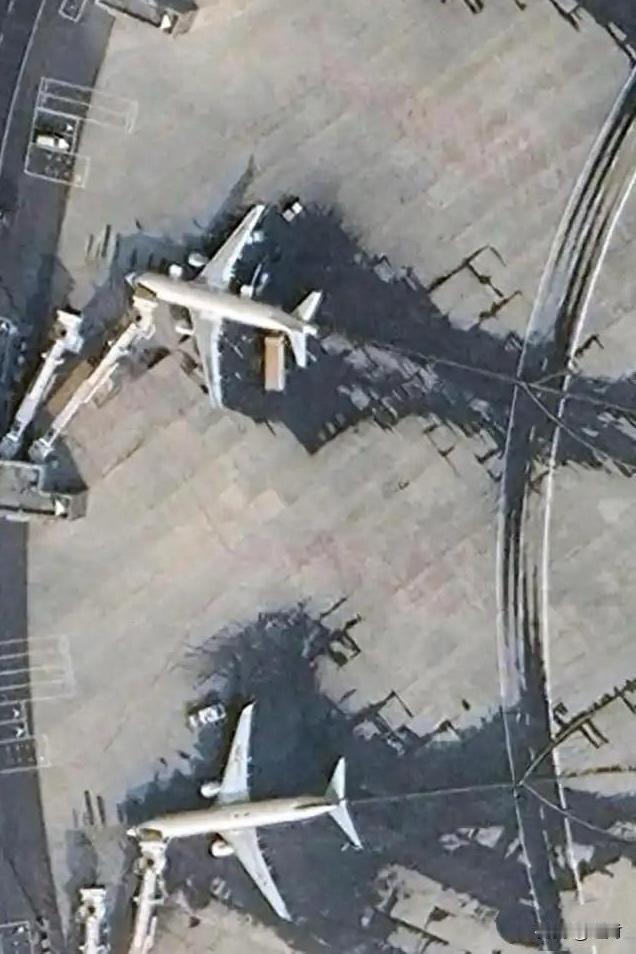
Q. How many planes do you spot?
2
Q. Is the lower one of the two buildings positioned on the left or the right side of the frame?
left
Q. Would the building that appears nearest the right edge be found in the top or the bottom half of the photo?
top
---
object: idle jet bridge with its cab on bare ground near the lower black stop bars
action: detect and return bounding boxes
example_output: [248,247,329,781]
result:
[75,888,109,954]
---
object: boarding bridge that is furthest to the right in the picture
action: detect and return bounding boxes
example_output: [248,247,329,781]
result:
[131,830,169,954]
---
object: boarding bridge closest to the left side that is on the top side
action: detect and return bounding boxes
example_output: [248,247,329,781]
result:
[0,307,82,457]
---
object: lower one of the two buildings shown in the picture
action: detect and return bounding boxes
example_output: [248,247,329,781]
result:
[0,460,88,521]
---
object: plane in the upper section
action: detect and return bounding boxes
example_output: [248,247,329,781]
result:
[128,205,325,406]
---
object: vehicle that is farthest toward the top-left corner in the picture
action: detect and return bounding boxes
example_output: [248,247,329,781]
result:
[36,133,69,147]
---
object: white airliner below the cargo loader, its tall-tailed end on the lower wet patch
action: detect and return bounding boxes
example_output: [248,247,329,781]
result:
[129,705,359,919]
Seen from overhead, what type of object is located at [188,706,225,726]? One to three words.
work vehicle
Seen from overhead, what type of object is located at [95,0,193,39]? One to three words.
building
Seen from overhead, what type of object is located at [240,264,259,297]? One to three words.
work vehicle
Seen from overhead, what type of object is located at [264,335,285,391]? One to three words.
vehicle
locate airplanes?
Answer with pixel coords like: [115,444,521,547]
[128,205,325,406]
[129,705,359,919]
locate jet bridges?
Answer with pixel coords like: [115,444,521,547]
[75,888,109,954]
[0,307,82,457]
[131,830,169,954]
[29,283,158,461]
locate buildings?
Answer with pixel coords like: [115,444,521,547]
[95,0,193,39]
[0,460,88,521]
